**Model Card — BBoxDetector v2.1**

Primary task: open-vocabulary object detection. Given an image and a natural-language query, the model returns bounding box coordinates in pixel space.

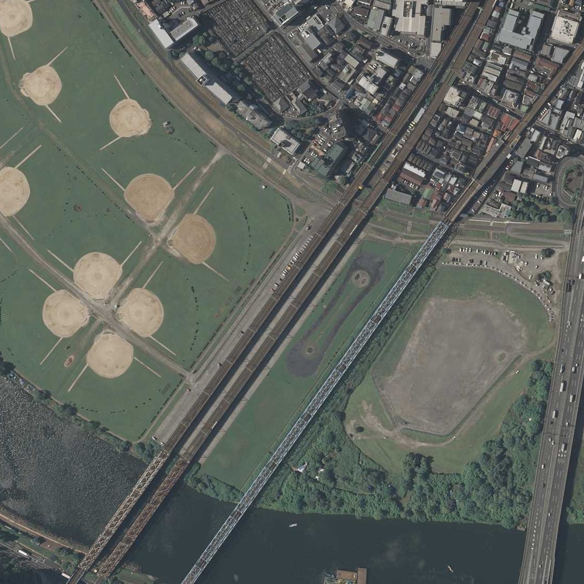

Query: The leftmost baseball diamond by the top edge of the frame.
[0,0,34,58]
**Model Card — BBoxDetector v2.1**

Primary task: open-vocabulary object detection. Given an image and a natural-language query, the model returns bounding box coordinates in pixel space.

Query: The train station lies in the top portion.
[474,135,516,190]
